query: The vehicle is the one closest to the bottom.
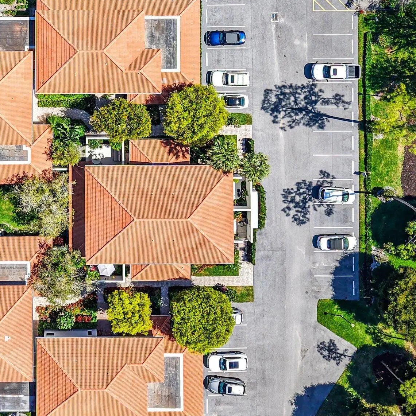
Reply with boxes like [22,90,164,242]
[205,375,247,397]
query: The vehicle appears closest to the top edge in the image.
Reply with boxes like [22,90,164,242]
[204,28,245,47]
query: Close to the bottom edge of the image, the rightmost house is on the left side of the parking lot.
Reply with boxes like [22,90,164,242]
[35,314,205,416]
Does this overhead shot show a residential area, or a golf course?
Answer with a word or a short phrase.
residential area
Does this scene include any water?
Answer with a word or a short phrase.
No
